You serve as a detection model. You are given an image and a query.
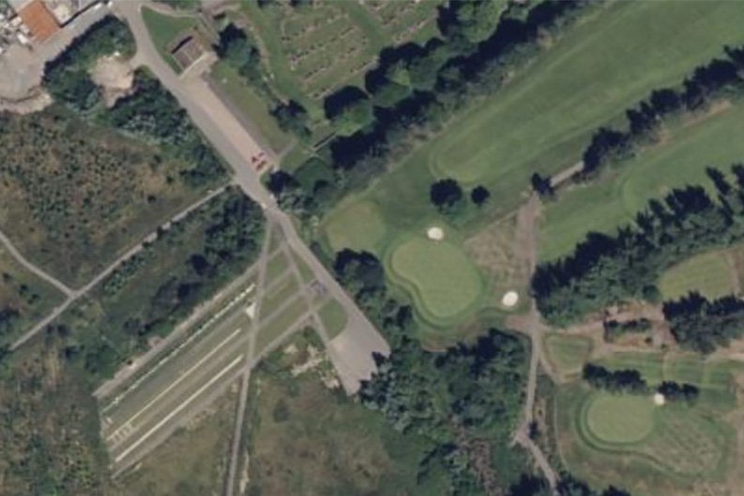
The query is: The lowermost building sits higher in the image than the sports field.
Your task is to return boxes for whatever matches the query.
[168,35,203,69]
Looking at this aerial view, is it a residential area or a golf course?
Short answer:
golf course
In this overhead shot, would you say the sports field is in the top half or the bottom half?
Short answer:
bottom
